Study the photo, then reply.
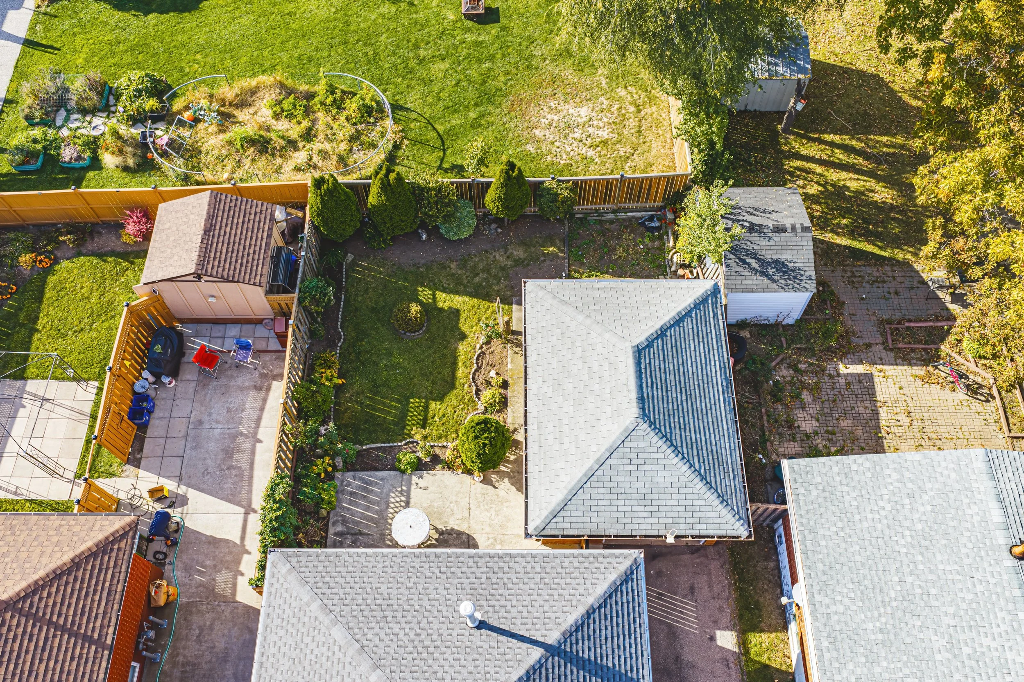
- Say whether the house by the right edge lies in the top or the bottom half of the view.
bottom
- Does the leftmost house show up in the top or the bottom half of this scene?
bottom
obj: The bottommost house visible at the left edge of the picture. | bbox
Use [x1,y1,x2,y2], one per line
[0,512,163,682]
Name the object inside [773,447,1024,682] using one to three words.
house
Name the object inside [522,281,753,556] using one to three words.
building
